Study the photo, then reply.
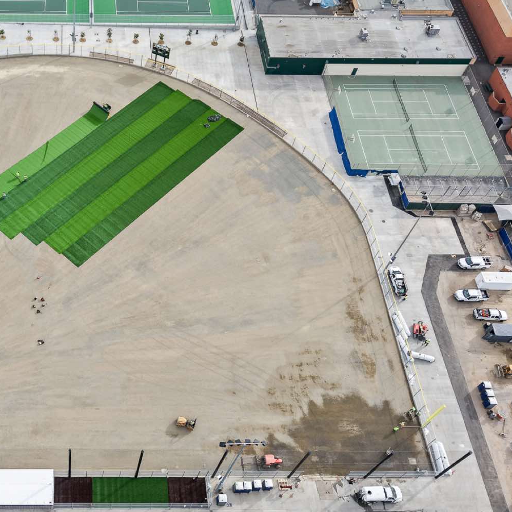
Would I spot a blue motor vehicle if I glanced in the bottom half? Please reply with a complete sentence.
No, there's no blue motor vehicle to be seen in the bottom half.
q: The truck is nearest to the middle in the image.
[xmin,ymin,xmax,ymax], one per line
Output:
[388,268,411,297]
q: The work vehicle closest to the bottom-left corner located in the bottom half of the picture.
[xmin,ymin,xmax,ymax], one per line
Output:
[173,417,200,434]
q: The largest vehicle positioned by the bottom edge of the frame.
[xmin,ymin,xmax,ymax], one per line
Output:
[348,486,404,505]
